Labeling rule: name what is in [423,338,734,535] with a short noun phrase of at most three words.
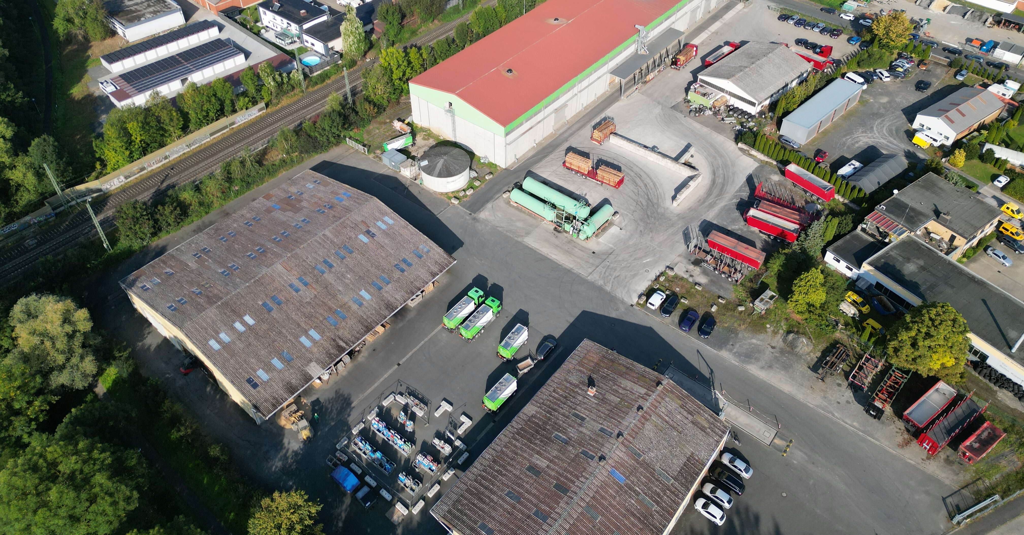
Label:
shed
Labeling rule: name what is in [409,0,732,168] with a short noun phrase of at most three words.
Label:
building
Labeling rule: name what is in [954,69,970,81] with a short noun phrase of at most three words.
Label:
vehicle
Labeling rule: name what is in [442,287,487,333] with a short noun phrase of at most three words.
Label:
truck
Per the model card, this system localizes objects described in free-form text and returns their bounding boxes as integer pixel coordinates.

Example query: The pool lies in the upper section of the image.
[298,51,330,70]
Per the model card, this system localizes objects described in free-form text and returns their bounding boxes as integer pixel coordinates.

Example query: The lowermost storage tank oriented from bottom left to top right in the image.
[583,206,617,238]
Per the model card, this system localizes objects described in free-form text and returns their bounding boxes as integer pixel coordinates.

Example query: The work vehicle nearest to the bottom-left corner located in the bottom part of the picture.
[180,355,199,376]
